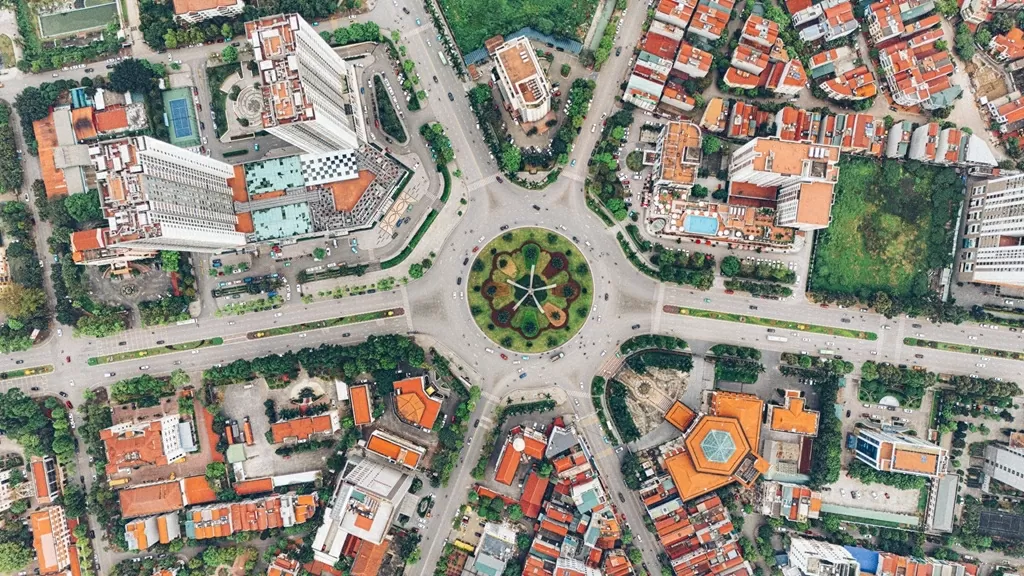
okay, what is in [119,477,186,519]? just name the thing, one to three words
building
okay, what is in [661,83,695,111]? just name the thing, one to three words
house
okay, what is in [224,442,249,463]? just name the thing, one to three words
shed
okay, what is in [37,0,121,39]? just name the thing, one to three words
soccer field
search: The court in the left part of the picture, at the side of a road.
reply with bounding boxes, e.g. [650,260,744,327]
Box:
[160,86,201,147]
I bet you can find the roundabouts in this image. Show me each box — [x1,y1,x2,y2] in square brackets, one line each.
[467,226,594,354]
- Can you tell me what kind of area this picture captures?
residential area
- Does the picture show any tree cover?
Yes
